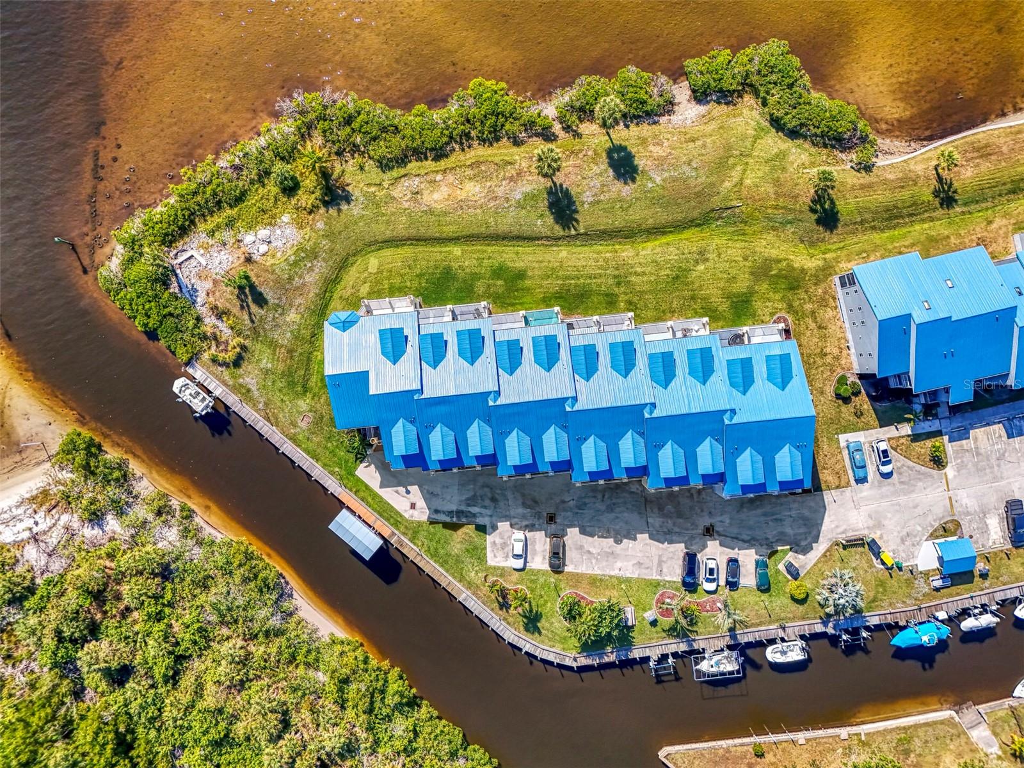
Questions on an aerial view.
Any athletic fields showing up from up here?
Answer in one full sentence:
No, the photo shows no athletic field.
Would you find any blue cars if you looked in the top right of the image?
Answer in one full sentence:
No, I can find no blue car in the top right of the image.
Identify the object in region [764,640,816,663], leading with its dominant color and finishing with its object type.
white boat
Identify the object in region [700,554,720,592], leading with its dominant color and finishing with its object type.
white car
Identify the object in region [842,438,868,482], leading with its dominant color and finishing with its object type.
blue car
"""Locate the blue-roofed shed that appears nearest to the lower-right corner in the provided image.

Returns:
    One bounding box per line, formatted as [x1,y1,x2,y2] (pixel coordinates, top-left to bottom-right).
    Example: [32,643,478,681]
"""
[924,532,976,574]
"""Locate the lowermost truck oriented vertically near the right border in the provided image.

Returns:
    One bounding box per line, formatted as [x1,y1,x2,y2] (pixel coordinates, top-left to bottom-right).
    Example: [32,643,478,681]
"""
[1000,497,1024,549]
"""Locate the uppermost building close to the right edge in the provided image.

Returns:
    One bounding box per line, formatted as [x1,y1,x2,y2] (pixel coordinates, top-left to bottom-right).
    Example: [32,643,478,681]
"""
[838,231,1024,405]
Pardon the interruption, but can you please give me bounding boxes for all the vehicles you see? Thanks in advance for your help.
[723,554,742,591]
[547,532,566,571]
[868,436,895,478]
[700,554,720,592]
[753,556,771,591]
[680,549,700,591]
[510,530,528,569]
[1000,497,1024,549]
[842,438,868,482]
